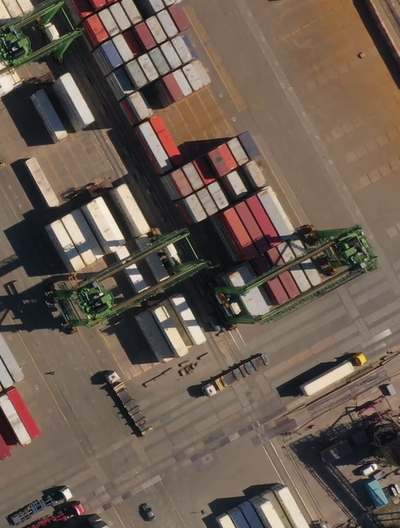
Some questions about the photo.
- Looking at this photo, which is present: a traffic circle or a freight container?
freight container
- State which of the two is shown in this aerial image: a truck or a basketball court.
truck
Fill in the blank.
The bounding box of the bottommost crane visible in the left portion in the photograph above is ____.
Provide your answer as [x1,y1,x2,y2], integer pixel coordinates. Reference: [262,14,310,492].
[48,227,205,336]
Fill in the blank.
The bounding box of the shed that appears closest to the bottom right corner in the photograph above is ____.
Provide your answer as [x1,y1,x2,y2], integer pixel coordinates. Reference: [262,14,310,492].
[363,478,389,506]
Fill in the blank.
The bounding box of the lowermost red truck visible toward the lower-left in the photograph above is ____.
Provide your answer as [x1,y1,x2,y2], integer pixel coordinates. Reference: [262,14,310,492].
[28,502,90,528]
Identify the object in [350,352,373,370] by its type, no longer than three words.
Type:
vehicle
